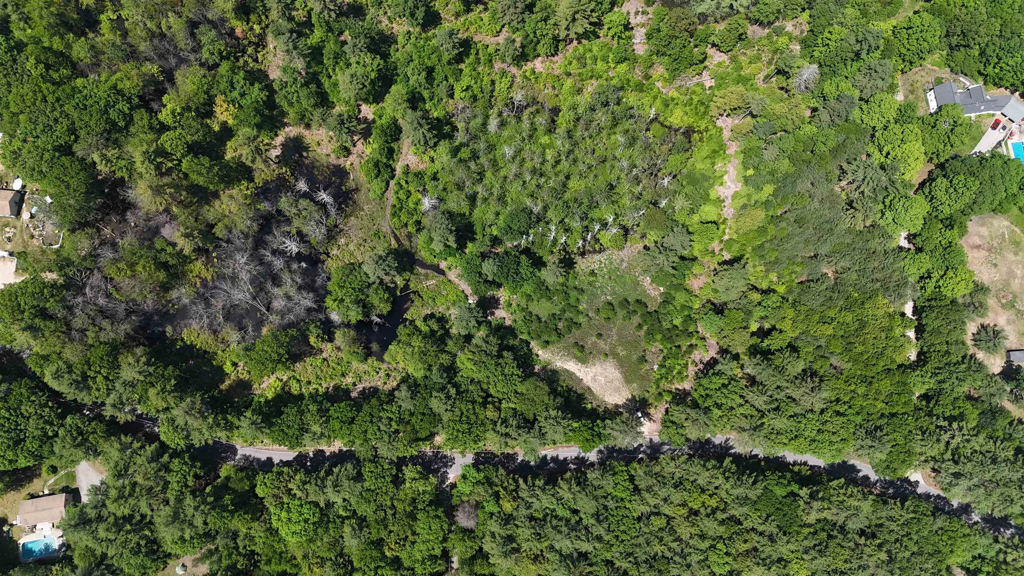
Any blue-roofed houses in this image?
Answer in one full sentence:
No, there isn't any blue-roofed house down there.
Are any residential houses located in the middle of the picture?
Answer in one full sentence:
No, I can find no residential house in the middle of the picture.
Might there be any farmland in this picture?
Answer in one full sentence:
No, the scene doesn't show any farmland.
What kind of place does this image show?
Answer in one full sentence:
The picture captures a forest.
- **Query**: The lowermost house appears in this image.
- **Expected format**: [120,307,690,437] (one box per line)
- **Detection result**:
[16,490,75,525]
